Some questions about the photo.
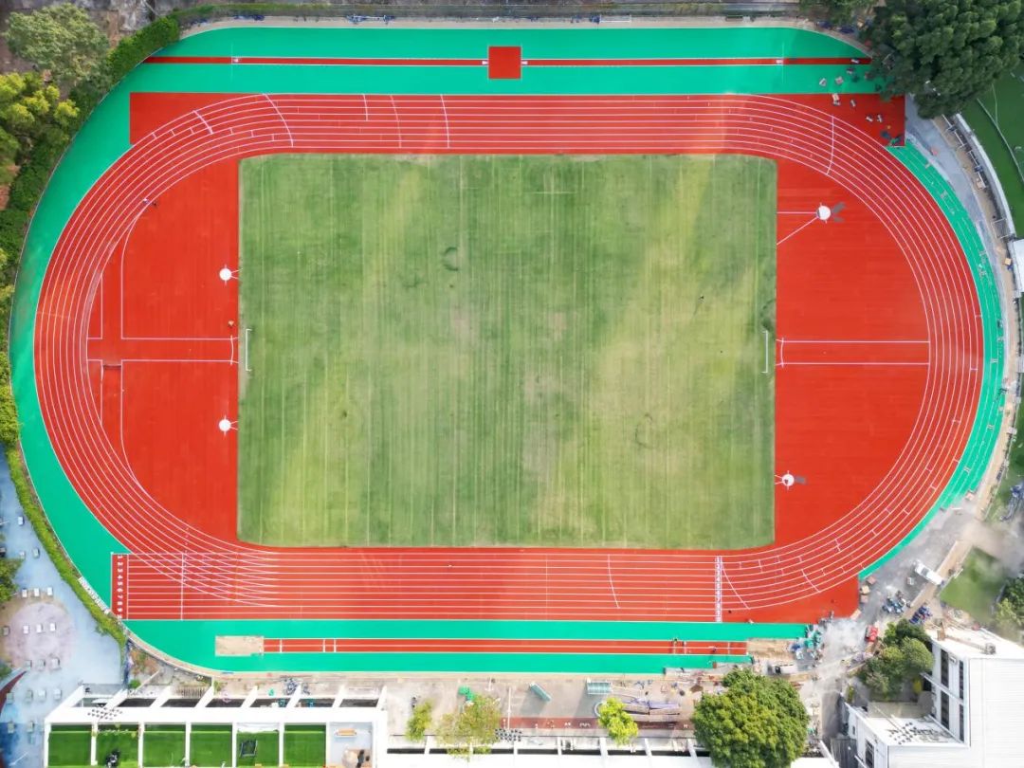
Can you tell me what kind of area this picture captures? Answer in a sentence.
What you see here is a sports ground.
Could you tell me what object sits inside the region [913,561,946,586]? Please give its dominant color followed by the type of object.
white vehicle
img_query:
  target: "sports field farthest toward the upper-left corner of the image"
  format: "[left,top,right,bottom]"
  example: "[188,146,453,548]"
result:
[238,155,777,547]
